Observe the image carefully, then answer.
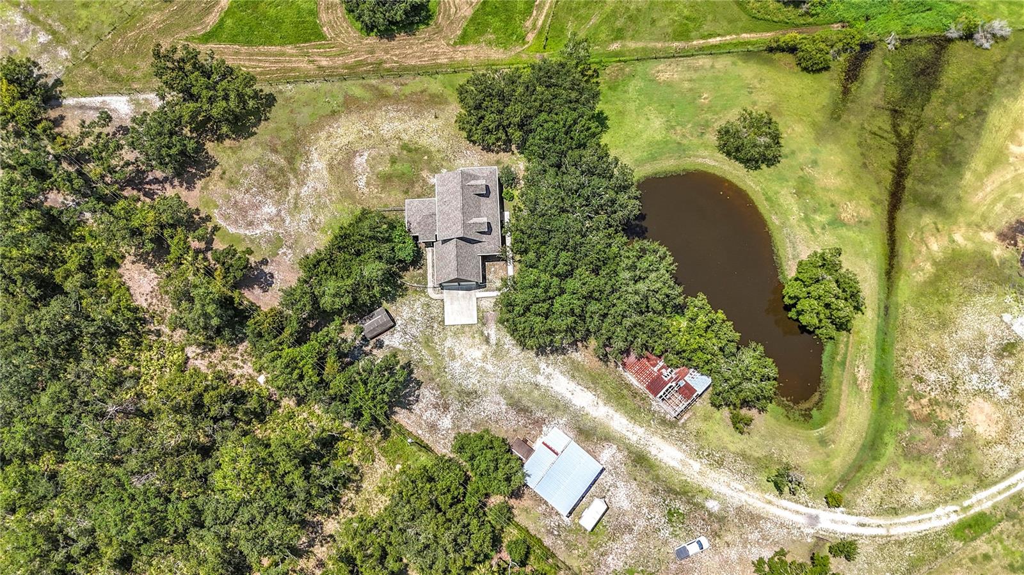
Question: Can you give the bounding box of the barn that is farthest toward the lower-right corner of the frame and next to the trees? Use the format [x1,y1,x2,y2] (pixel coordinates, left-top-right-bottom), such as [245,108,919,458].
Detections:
[613,334,712,420]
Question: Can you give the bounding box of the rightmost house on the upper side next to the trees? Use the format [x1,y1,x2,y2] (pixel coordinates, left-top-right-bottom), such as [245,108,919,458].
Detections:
[405,163,502,289]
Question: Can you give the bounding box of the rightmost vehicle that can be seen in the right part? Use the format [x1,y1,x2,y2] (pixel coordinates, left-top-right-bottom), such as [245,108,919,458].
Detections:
[675,539,710,561]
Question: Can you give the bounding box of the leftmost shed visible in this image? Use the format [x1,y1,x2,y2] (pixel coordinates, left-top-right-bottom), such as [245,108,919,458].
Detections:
[358,308,393,341]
